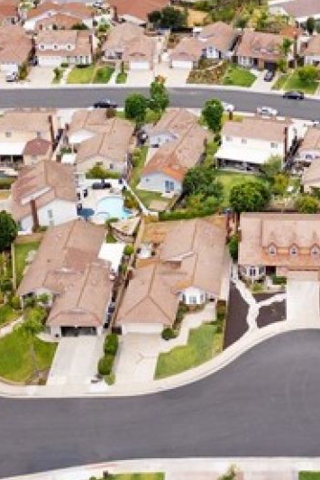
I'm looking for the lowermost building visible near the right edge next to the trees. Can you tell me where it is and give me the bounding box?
[236,204,320,283]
